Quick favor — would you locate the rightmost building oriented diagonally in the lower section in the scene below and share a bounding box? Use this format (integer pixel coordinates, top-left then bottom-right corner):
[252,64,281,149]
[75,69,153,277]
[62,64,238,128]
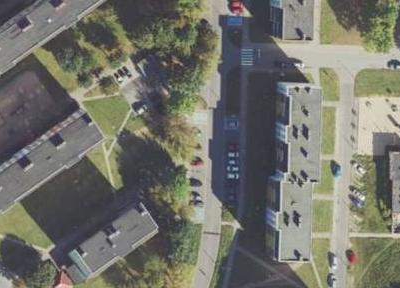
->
[63,199,158,283]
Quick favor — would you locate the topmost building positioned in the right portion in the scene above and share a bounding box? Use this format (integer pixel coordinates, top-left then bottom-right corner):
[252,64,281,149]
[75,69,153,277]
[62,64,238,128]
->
[269,0,314,40]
